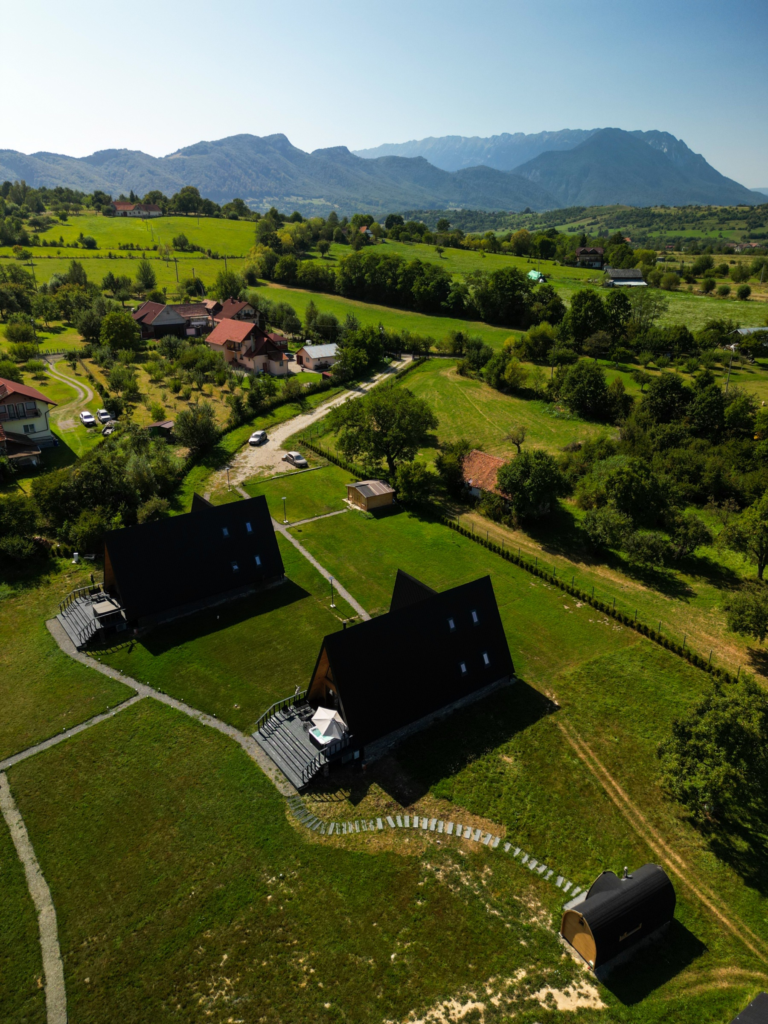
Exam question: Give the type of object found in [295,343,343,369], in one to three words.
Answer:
building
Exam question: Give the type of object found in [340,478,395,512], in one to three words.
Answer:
shed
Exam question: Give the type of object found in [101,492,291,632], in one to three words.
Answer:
building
